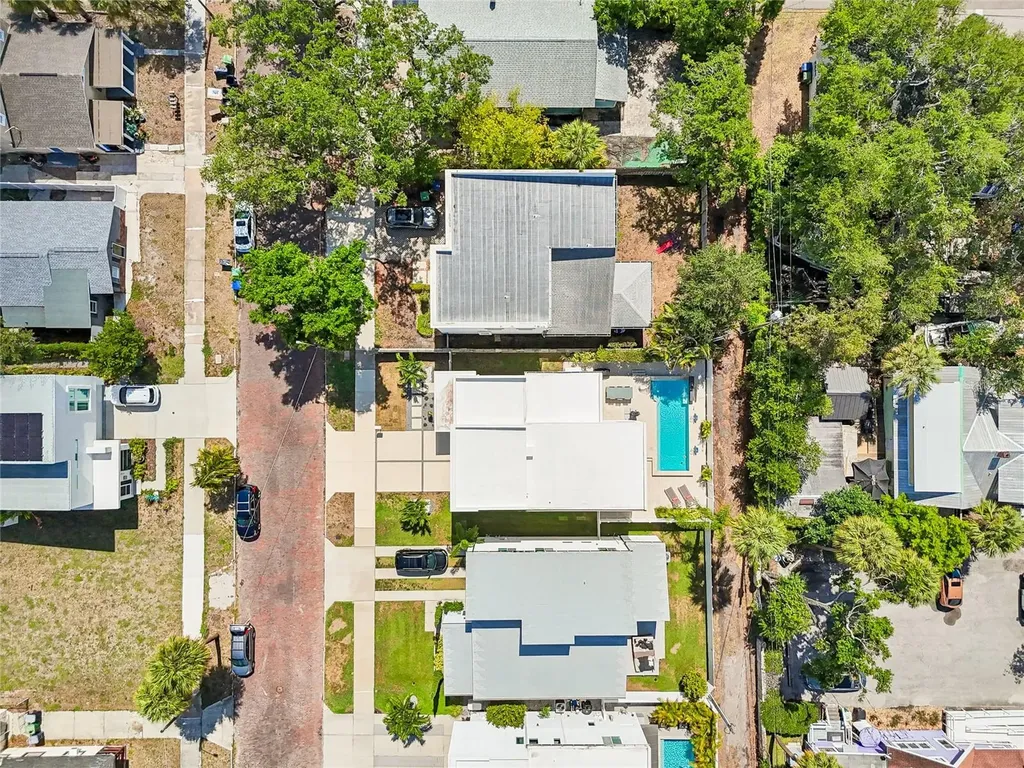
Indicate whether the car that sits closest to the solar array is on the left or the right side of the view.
left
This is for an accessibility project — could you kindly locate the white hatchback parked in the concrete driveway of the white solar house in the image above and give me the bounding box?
[116,384,168,410]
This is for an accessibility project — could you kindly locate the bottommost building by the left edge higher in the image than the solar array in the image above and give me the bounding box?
[0,201,128,328]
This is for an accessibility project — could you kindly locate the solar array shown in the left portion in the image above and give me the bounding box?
[0,413,42,460]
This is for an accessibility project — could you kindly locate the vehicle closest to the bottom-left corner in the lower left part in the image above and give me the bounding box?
[229,623,257,676]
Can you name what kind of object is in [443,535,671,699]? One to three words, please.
house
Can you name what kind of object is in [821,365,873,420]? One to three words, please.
shed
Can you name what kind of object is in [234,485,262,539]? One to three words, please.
car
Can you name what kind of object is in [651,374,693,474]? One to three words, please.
swimming pool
